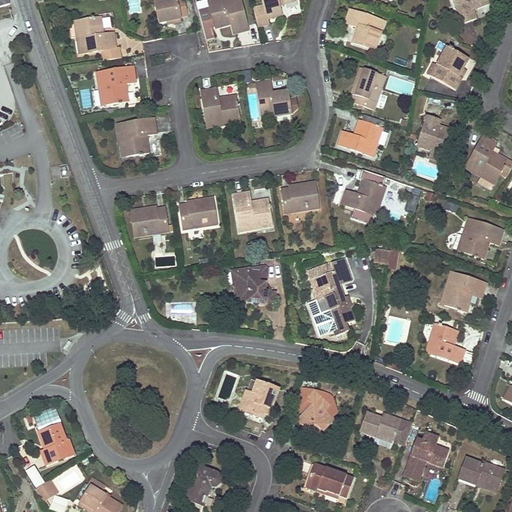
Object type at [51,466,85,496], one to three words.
building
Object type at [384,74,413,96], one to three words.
swimming pool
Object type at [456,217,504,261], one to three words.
house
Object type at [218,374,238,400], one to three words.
swimming pool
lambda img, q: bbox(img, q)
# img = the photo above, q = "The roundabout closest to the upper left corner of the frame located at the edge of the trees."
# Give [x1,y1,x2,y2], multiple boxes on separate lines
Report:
[0,212,76,298]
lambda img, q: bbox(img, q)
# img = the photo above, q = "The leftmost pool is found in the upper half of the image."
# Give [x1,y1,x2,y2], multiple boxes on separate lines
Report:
[80,88,92,110]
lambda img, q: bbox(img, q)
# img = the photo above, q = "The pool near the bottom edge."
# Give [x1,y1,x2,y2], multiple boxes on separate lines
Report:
[424,478,442,504]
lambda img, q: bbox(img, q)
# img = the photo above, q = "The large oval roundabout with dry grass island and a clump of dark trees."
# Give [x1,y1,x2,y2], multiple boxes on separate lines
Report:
[70,328,203,473]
